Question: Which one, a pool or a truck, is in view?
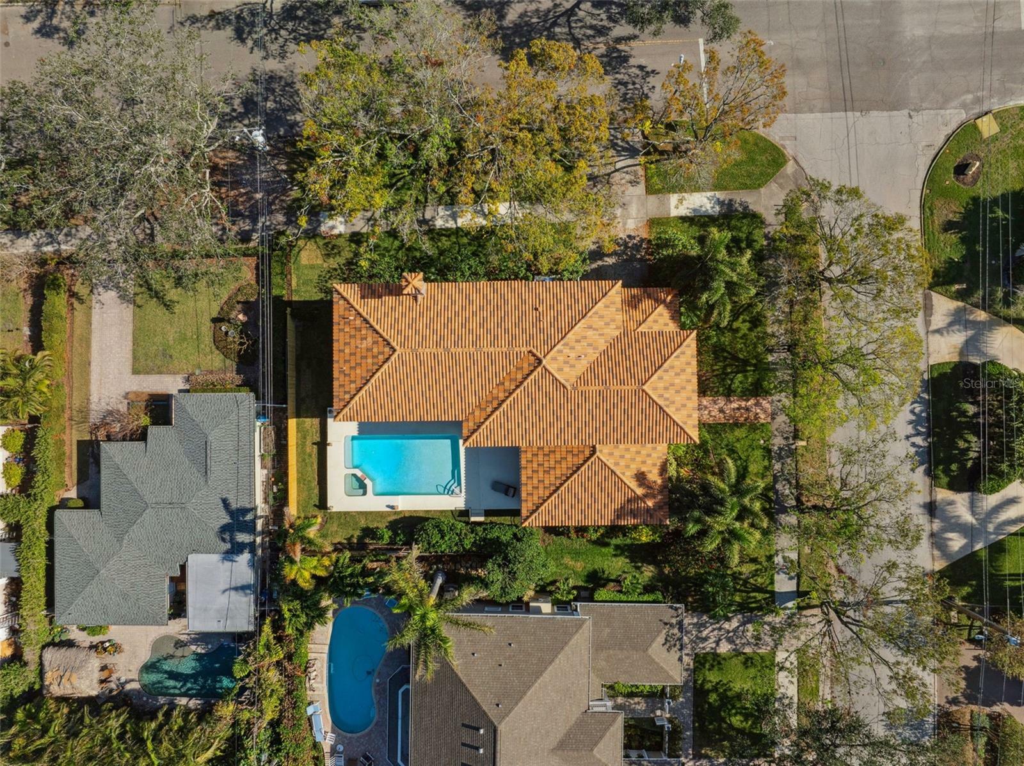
pool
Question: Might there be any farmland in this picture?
No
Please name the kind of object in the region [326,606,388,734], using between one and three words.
swimming pool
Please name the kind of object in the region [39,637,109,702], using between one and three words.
shed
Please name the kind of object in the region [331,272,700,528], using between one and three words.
house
